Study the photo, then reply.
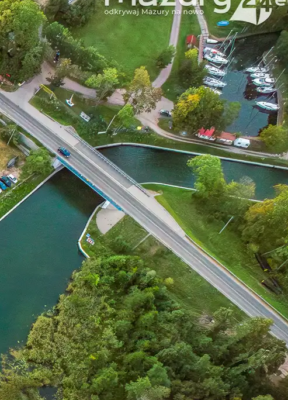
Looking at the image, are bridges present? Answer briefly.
Yes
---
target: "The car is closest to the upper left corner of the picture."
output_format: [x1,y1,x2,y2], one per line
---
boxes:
[57,146,71,158]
